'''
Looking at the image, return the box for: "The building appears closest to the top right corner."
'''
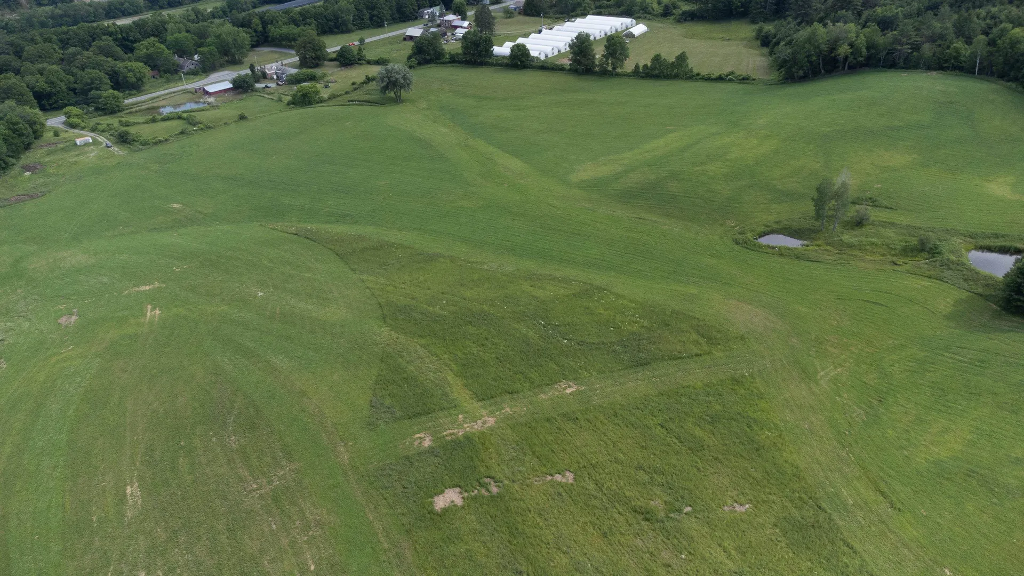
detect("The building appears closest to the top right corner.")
[623,22,655,38]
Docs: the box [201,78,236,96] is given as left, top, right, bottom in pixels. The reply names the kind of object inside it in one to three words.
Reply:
barn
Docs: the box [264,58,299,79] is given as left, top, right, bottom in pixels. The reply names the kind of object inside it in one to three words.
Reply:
house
